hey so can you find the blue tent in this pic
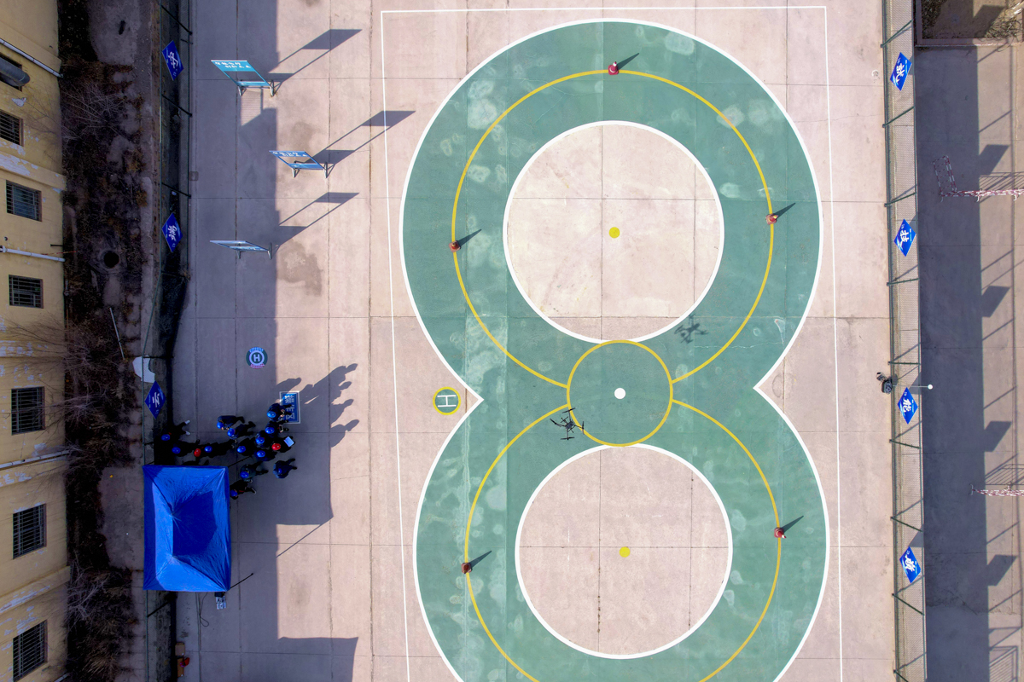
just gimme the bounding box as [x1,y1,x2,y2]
[142,456,252,593]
